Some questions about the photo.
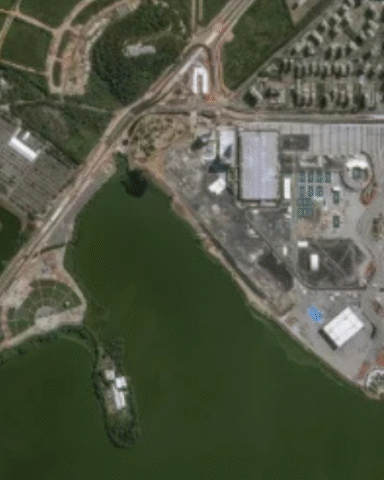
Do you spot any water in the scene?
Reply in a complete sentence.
Yes, water can be seen from above here.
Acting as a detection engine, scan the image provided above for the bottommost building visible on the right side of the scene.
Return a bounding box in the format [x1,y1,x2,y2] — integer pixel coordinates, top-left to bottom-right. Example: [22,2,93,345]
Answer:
[323,307,364,347]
